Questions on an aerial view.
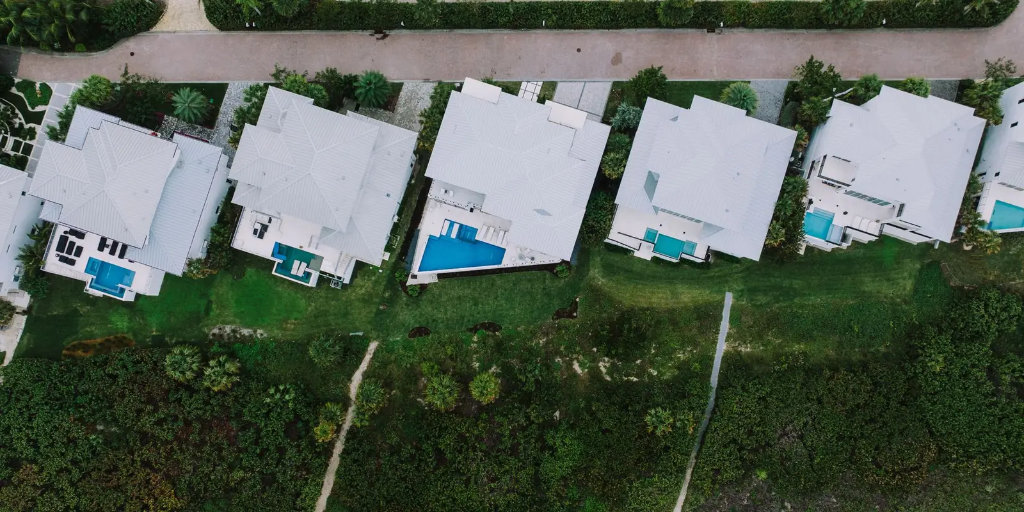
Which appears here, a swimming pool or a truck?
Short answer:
swimming pool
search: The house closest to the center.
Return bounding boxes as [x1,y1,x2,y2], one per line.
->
[424,77,610,262]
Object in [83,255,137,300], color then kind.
blue swimming pool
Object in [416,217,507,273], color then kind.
blue swimming pool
